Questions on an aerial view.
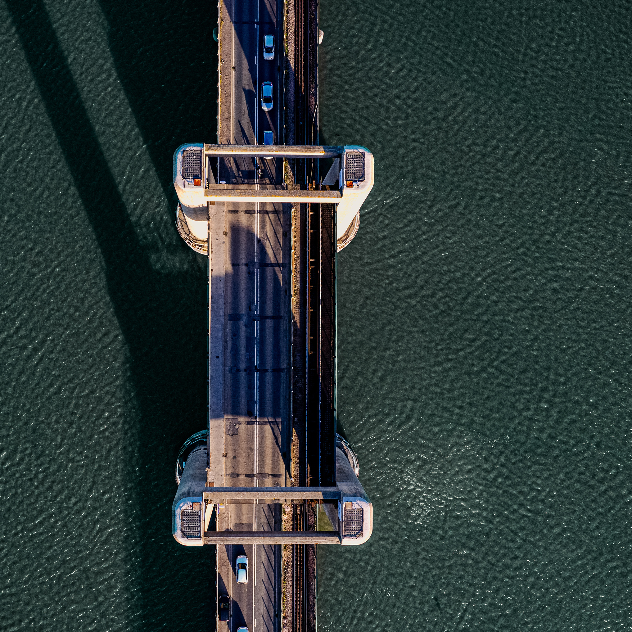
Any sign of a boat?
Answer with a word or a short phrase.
No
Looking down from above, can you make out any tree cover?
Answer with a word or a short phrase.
No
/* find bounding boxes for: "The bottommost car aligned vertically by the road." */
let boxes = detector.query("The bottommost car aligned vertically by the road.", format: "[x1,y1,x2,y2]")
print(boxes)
[218,594,230,623]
